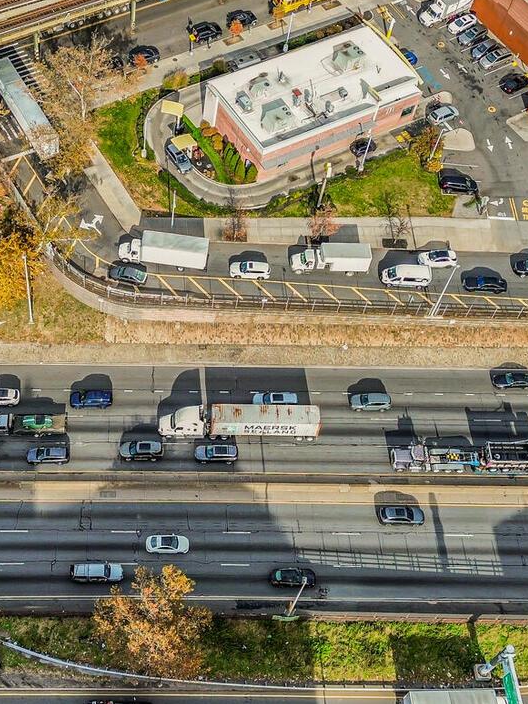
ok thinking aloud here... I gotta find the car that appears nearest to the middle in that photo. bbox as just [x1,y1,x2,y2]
[251,388,296,405]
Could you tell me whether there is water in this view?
No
